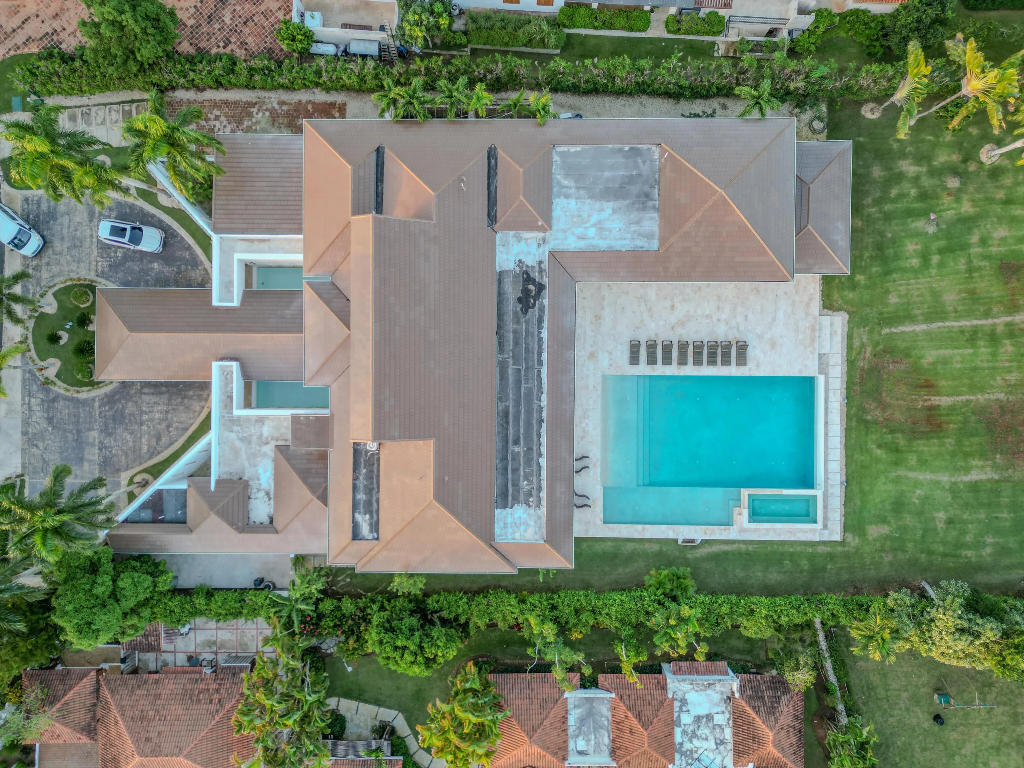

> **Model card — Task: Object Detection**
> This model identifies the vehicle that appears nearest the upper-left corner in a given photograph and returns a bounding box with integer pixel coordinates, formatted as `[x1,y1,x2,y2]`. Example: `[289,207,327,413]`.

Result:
[0,199,46,256]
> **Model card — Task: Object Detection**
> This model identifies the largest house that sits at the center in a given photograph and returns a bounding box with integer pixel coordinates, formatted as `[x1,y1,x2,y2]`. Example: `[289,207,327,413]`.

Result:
[302,116,797,574]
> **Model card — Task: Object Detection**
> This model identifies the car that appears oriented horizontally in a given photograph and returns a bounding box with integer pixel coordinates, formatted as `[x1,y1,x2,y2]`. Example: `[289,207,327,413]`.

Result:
[93,217,168,255]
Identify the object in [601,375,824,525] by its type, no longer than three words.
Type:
swimming pool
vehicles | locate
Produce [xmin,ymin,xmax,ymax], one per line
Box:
[93,217,168,255]
[0,199,46,256]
